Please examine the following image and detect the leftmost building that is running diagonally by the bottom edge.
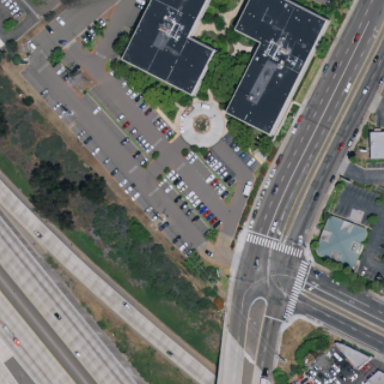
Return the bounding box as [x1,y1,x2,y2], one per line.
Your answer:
[336,342,374,370]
